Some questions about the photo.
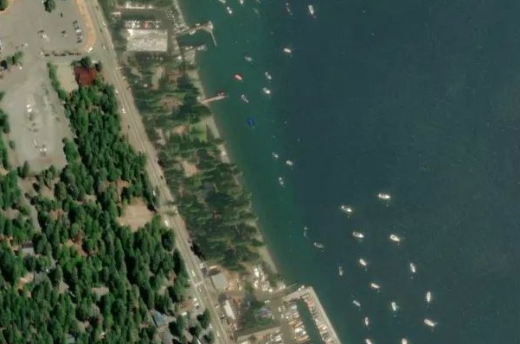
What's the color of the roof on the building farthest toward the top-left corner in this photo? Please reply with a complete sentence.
The roof of the building farthest toward the top-left corner is red.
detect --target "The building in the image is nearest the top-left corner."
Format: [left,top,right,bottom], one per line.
[75,67,96,87]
